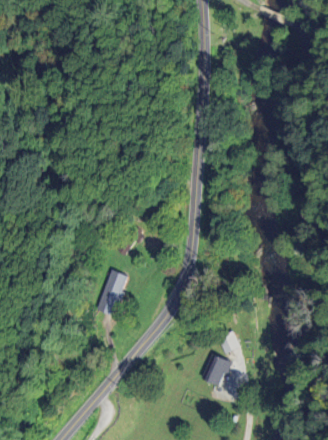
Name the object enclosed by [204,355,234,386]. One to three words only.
house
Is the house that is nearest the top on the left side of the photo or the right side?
left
